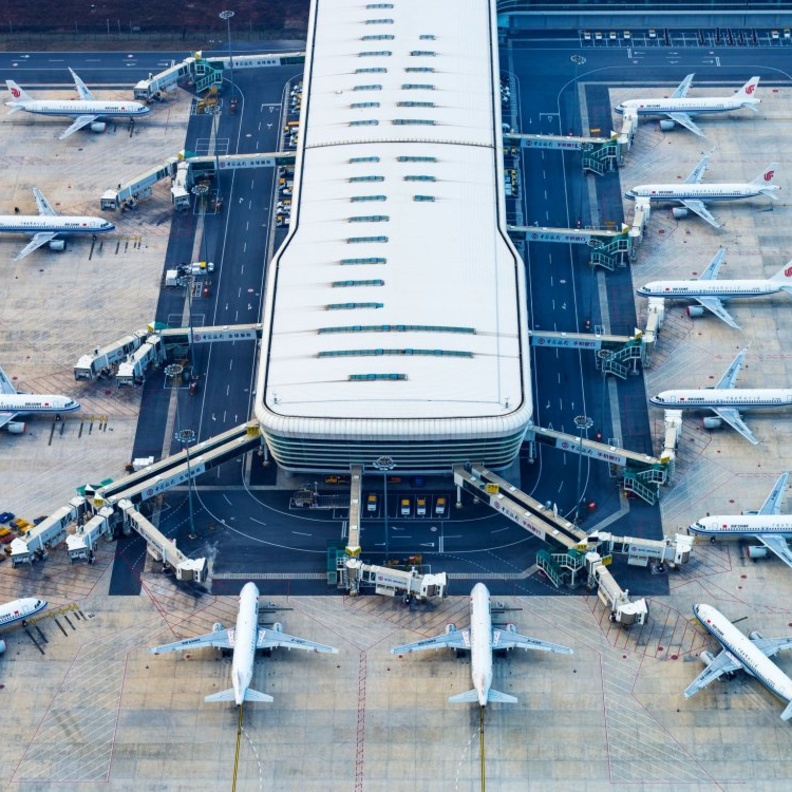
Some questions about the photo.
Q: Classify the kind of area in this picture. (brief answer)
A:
airport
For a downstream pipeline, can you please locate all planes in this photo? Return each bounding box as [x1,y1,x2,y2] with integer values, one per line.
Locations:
[688,607,792,714]
[616,72,762,137]
[153,586,334,704]
[0,186,115,262]
[391,586,572,704]
[626,147,781,225]
[689,474,792,572]
[650,345,792,443]
[638,241,792,329]
[0,364,80,432]
[4,76,150,142]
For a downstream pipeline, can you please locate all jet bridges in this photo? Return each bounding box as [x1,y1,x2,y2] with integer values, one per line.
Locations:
[171,162,193,211]
[108,500,203,583]
[101,159,183,215]
[657,401,683,491]
[9,495,103,574]
[67,505,117,571]
[568,547,644,630]
[137,56,196,103]
[115,336,163,394]
[75,329,155,385]
[344,550,443,610]
[611,101,638,169]
[625,193,650,264]
[639,292,666,370]
[582,531,694,578]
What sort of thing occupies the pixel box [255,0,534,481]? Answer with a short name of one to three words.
building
